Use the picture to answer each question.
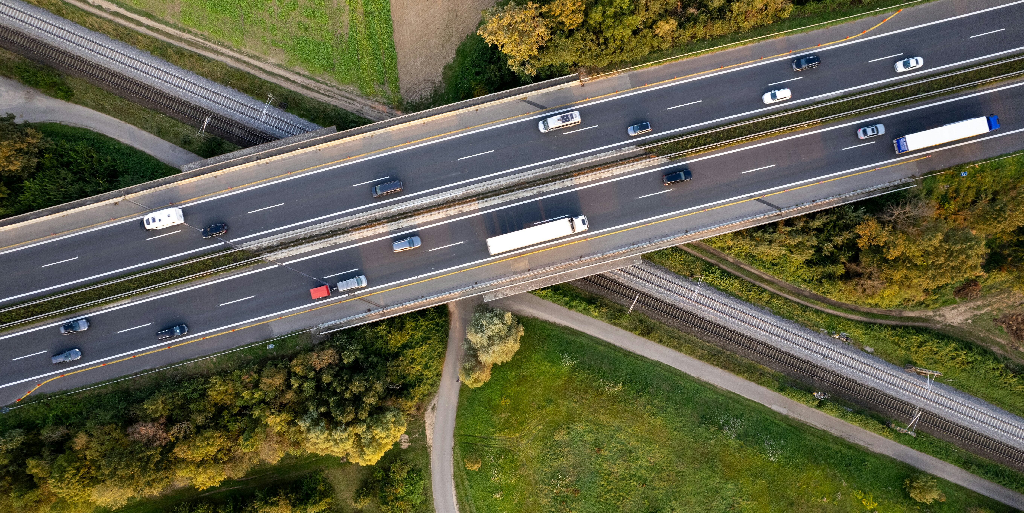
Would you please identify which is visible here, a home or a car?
car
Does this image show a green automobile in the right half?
No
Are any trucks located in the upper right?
Yes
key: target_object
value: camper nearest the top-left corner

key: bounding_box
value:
[139,208,185,232]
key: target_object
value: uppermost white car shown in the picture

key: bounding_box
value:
[892,56,924,73]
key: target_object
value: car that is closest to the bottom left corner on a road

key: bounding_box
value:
[52,348,83,365]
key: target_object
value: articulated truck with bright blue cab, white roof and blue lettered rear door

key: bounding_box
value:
[891,114,1000,154]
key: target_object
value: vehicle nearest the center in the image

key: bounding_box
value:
[486,213,589,254]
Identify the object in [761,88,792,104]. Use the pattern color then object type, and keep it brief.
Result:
white car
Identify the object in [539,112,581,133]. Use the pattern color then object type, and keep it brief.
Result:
white vehicle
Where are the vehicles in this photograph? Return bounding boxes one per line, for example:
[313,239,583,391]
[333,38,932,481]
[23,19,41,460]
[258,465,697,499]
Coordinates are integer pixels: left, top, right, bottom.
[626,121,652,137]
[202,223,228,239]
[60,319,91,335]
[486,213,589,254]
[891,114,1000,154]
[335,274,368,292]
[391,236,421,252]
[139,208,185,232]
[661,169,692,186]
[371,180,403,197]
[539,112,581,133]
[157,324,189,341]
[855,123,885,139]
[892,56,924,73]
[52,348,83,365]
[790,55,822,72]
[761,88,792,104]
